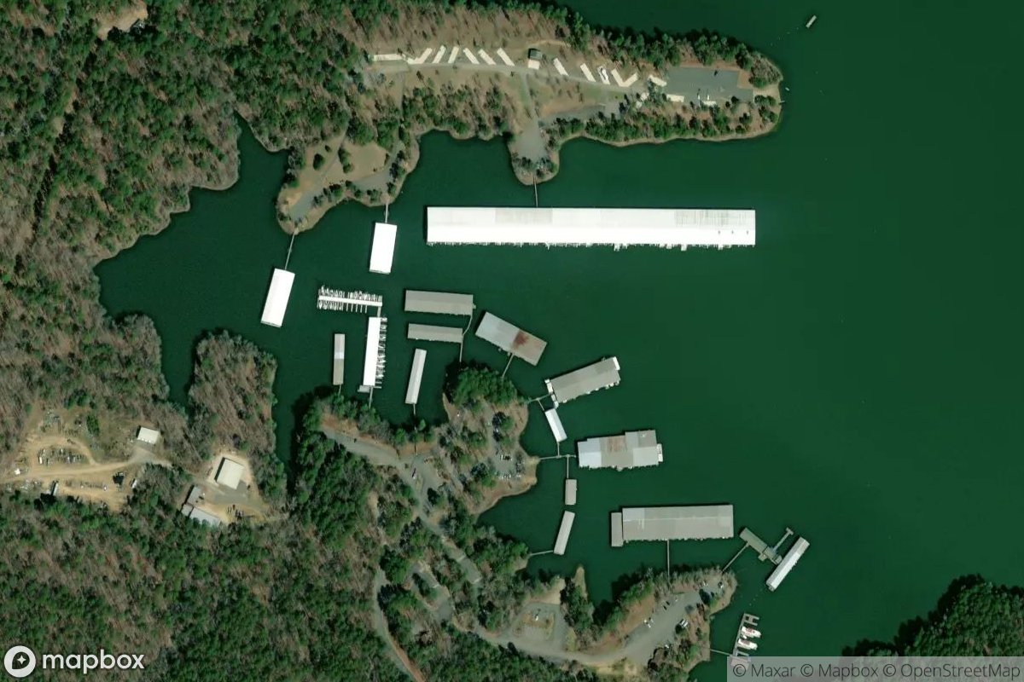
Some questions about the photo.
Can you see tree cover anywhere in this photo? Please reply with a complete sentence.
Yes, there is tree cover in the image.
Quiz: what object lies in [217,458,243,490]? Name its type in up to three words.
barn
